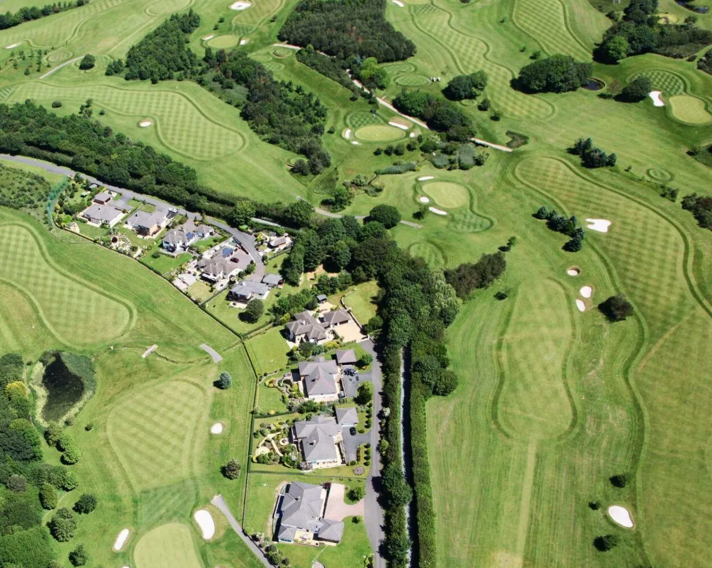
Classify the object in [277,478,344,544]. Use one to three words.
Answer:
house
